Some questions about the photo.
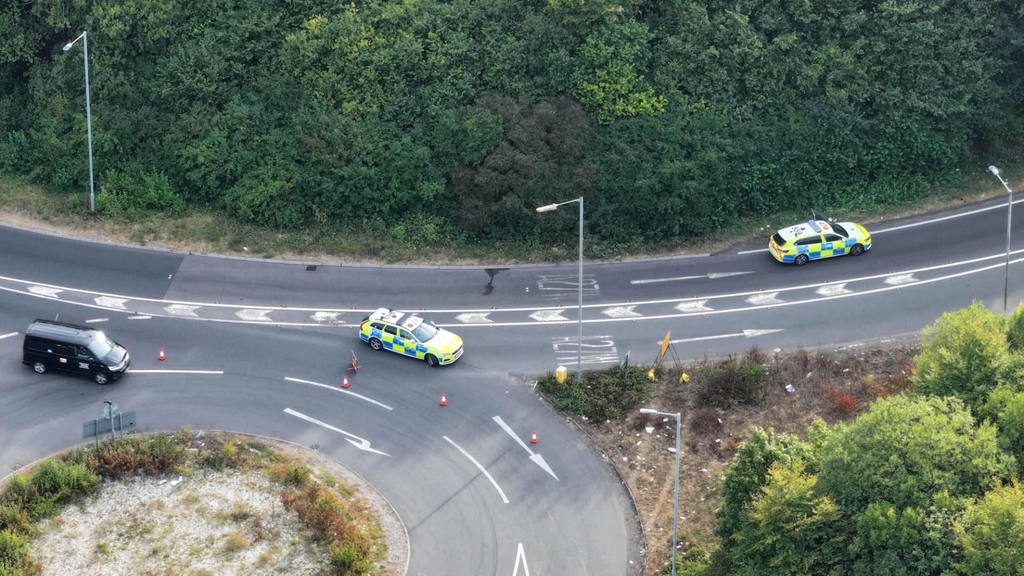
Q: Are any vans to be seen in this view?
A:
Yes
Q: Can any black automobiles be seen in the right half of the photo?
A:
No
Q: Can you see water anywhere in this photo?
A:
No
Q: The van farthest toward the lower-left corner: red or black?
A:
black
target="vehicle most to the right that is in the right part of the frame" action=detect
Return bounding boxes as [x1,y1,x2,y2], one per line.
[768,208,872,265]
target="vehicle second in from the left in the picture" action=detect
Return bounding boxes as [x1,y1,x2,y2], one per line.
[358,307,464,366]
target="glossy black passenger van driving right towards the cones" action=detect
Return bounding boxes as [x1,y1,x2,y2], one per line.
[19,315,130,383]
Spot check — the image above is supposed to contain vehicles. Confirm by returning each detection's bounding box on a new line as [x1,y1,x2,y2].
[19,315,130,383]
[358,307,464,366]
[768,208,872,265]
